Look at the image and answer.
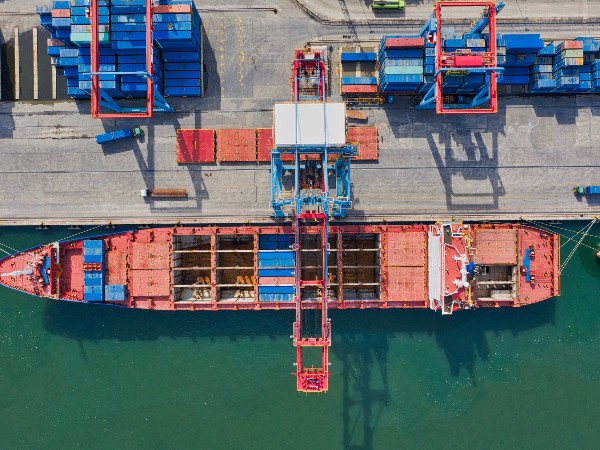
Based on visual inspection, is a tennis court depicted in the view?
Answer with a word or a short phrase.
No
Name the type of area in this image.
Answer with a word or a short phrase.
port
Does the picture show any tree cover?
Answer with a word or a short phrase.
No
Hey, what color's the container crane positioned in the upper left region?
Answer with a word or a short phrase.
red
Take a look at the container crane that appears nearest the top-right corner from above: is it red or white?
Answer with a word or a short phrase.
red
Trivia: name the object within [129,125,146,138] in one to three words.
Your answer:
vehicle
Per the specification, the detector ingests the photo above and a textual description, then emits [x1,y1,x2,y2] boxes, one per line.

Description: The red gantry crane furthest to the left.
[83,0,176,120]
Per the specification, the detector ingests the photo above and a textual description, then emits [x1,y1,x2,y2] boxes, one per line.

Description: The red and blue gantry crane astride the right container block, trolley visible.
[414,1,505,112]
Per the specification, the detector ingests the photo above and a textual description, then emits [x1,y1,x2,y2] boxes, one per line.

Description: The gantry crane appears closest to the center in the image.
[268,54,366,397]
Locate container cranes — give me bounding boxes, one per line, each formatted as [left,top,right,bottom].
[414,1,505,112]
[83,0,176,120]
[268,54,366,397]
